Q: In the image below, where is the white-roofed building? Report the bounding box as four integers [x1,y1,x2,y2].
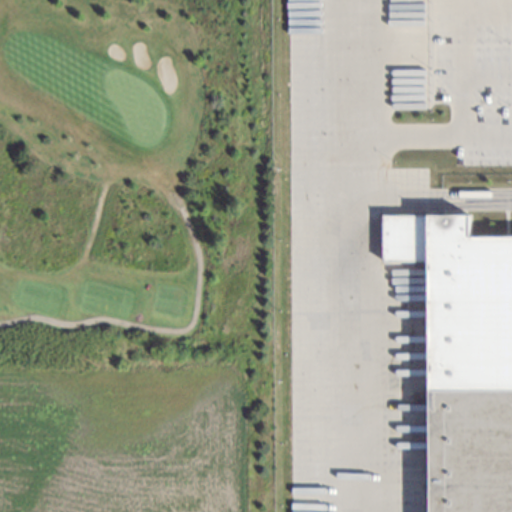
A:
[382,214,512,512]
